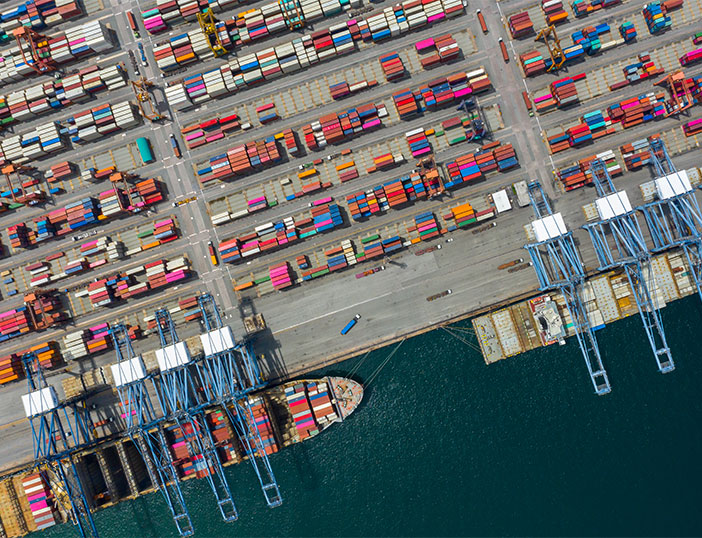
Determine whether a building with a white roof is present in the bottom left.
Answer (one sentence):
No, no building with a white roof is visible in the bottom left.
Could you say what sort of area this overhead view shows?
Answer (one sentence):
This looks like a port.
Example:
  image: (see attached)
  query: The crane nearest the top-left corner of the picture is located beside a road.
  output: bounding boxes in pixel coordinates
[10,27,54,77]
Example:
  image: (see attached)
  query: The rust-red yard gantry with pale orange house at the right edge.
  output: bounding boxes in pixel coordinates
[653,68,694,117]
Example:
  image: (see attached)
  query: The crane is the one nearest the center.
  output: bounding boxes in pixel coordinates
[414,153,446,199]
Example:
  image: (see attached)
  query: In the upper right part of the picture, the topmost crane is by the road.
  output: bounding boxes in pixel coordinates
[531,21,568,74]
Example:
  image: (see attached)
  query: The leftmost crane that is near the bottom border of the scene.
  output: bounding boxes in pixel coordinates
[21,353,105,538]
